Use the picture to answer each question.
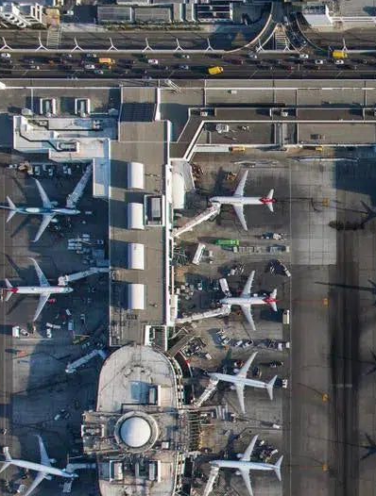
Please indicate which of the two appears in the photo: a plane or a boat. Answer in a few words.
plane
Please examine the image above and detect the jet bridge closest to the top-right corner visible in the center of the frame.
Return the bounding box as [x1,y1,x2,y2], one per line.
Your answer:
[176,197,226,238]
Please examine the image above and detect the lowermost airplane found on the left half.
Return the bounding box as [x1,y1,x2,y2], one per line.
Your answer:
[0,435,79,496]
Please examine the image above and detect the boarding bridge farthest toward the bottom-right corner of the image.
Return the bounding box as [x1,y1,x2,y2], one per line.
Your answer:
[203,461,223,496]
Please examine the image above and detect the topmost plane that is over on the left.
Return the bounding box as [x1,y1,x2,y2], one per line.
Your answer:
[3,177,81,244]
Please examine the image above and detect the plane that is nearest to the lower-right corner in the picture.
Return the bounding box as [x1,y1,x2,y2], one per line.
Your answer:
[210,433,282,496]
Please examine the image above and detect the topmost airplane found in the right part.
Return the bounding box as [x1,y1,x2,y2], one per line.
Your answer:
[210,169,278,230]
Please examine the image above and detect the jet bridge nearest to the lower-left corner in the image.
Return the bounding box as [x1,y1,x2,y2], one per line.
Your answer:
[61,463,97,478]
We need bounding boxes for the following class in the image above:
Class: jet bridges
[176,197,226,238]
[61,463,97,478]
[176,299,238,326]
[53,267,108,286]
[63,162,92,214]
[194,372,223,409]
[203,461,223,496]
[60,347,108,375]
